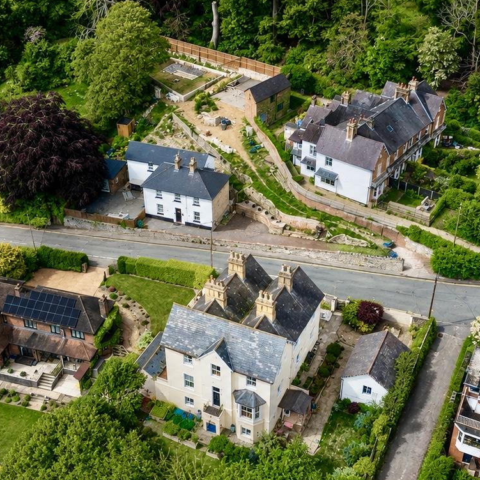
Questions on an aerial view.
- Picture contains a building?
Yes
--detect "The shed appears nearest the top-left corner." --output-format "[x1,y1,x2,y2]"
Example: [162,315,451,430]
[115,114,135,137]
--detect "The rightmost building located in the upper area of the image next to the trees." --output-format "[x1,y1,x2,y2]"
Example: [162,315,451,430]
[294,70,451,214]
